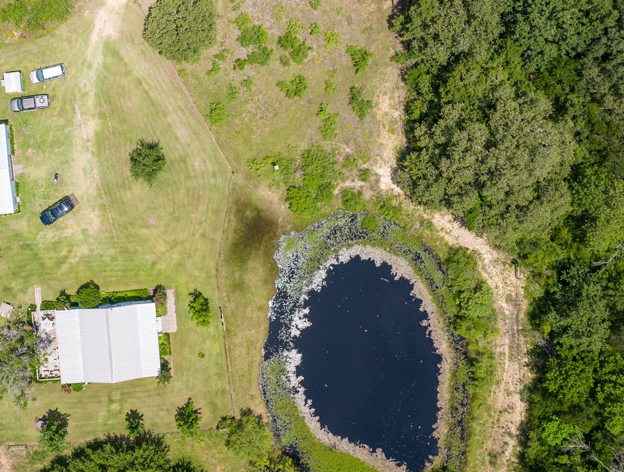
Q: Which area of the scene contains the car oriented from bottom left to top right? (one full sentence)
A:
The car oriented from bottom left to top right is in the left part of the image.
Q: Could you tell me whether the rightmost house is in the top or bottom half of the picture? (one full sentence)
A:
The bottom half of the photo is where the rightmost house is.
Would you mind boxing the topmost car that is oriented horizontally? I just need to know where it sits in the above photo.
[30,65,68,83]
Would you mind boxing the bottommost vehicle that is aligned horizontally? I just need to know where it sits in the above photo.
[9,95,52,113]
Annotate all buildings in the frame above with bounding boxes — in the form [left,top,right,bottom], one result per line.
[3,72,25,94]
[0,124,17,215]
[54,302,160,384]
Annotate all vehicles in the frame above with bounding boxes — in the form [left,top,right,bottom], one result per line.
[9,95,52,113]
[41,193,81,226]
[30,65,68,83]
